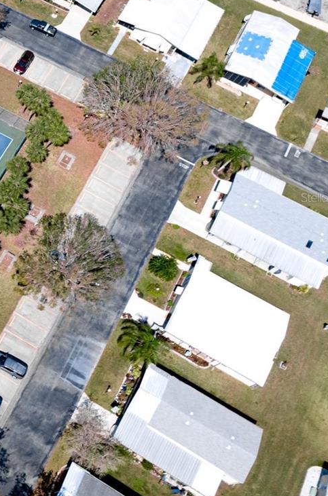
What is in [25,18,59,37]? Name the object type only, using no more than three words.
vehicle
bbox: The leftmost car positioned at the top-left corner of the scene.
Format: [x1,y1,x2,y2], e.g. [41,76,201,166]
[14,50,35,72]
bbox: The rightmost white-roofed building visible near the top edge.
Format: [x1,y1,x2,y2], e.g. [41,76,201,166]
[220,10,320,101]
